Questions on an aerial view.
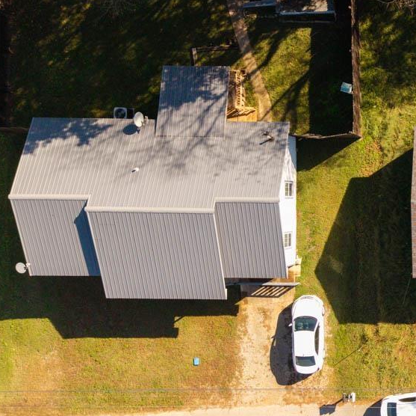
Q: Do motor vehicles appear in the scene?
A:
Yes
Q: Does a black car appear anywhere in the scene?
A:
No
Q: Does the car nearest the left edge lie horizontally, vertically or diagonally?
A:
vertically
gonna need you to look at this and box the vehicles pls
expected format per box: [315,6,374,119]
[290,292,327,374]
[380,391,416,416]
